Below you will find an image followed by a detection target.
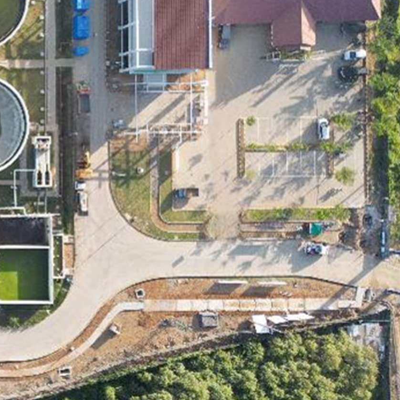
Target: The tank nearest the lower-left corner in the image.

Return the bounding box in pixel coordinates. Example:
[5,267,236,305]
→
[0,214,64,304]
